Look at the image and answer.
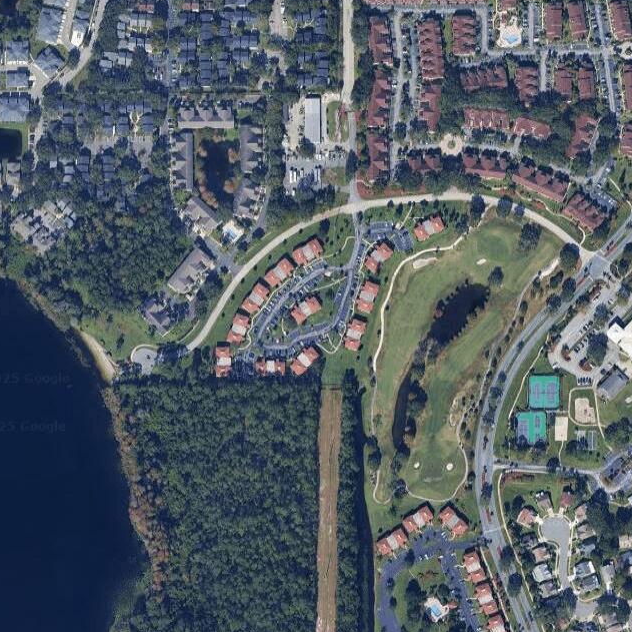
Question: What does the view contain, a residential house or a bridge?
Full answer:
Of the two, only a residential house appears.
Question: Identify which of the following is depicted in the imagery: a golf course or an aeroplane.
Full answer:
I can see a golf course in this picture.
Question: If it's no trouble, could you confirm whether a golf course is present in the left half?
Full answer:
No, the scene shows no golf course in the left half.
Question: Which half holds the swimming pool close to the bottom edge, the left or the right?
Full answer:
It is on the right.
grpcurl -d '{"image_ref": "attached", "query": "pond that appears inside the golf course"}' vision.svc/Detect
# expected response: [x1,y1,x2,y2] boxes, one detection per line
[393,281,490,455]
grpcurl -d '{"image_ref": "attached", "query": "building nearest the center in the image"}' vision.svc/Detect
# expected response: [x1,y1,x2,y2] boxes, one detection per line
[291,293,323,325]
